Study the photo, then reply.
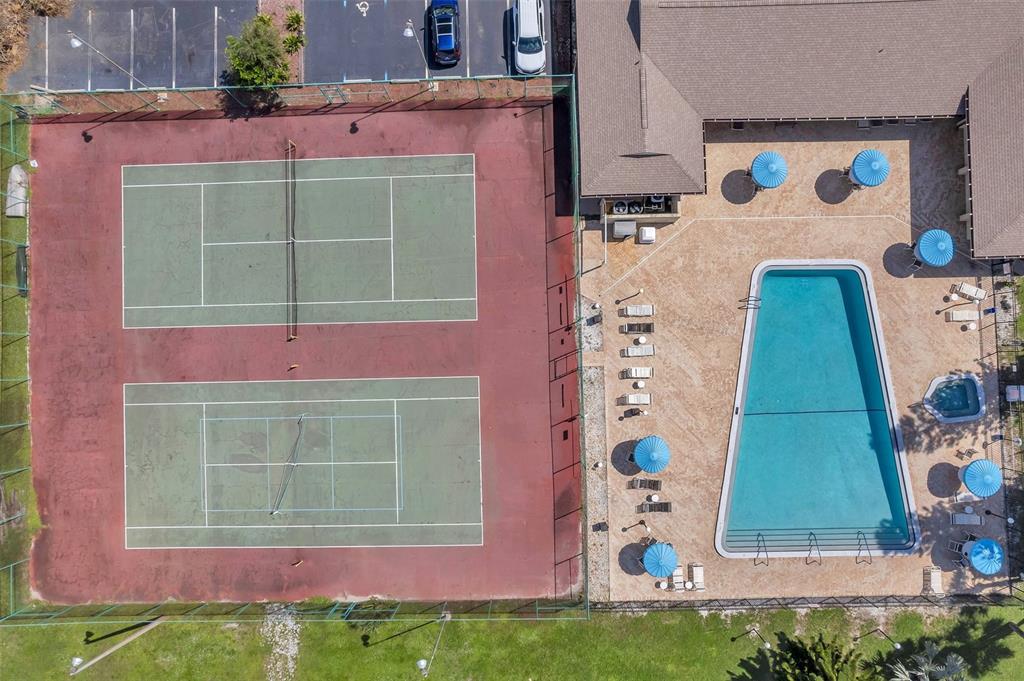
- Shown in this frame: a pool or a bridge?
pool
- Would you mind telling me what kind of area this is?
sports ground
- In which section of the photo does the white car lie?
top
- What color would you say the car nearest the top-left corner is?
blue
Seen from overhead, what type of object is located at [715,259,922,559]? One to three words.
swimming pool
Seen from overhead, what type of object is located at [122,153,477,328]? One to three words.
tennis court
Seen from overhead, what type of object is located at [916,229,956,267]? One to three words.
umbrella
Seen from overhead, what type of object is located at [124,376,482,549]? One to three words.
tennis court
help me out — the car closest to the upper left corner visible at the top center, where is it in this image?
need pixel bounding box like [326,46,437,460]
[428,0,463,65]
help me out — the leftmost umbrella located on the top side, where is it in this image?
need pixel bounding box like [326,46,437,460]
[750,151,788,188]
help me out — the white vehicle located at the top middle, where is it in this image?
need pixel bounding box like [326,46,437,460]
[512,0,549,78]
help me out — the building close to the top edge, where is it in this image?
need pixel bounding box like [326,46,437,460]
[577,0,1024,260]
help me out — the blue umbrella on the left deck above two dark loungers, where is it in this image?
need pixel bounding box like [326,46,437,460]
[634,436,671,472]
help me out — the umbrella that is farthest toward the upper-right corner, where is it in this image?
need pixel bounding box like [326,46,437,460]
[852,149,891,187]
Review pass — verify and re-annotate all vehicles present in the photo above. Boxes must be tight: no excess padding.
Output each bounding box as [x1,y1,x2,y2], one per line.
[512,0,549,78]
[428,0,463,65]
